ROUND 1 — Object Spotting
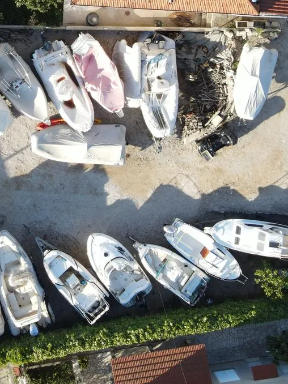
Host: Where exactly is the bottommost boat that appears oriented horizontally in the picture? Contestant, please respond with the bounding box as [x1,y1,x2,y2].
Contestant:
[206,217,288,261]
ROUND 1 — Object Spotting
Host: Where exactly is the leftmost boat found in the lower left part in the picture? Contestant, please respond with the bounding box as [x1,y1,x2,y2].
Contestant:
[0,232,49,342]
